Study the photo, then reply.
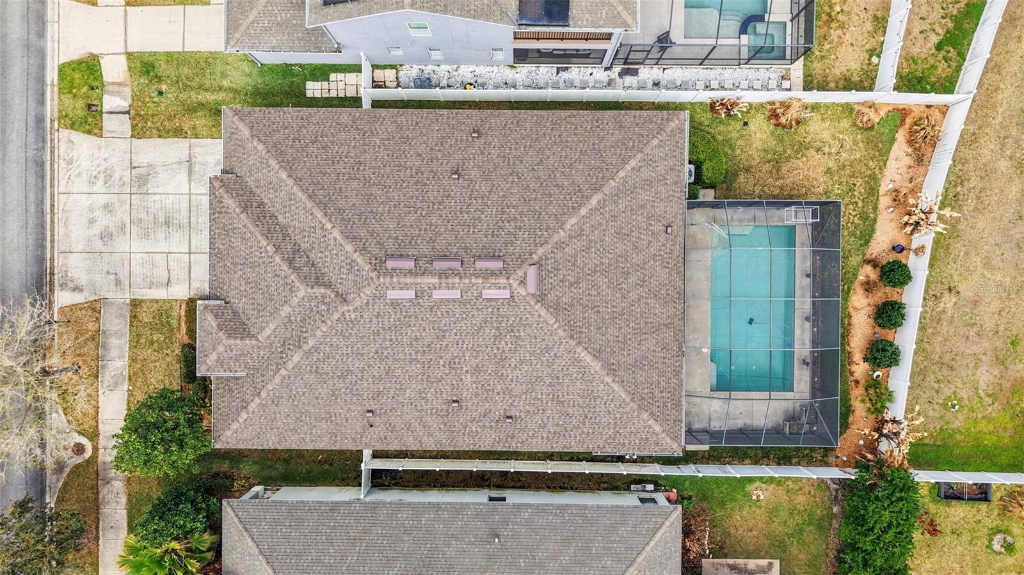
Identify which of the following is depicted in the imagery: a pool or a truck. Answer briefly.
pool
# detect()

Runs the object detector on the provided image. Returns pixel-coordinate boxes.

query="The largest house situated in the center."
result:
[195,105,690,457]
